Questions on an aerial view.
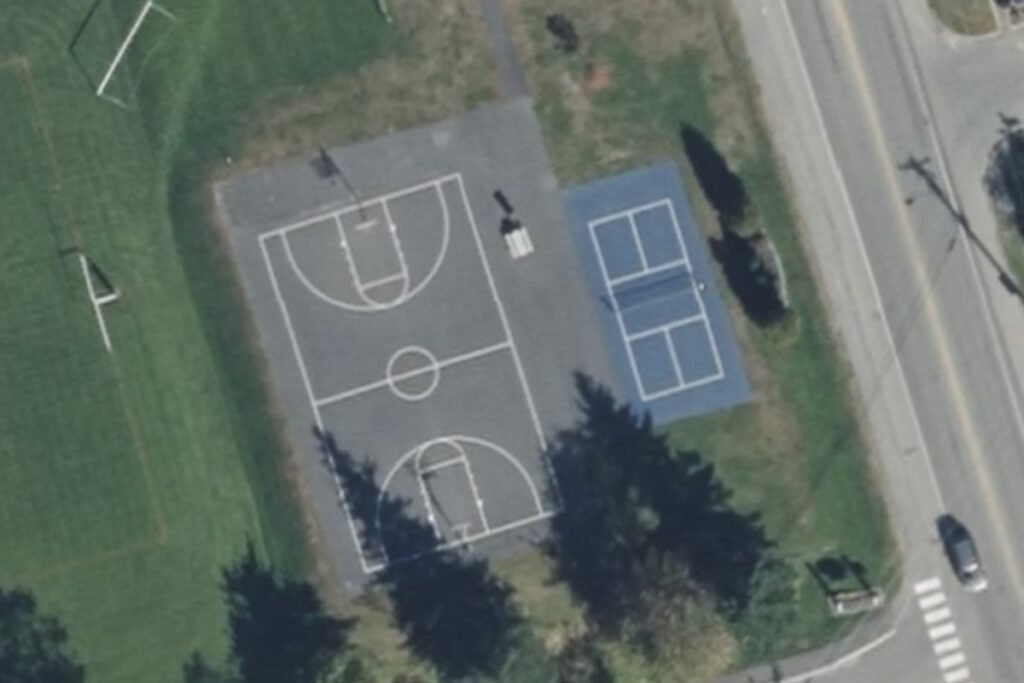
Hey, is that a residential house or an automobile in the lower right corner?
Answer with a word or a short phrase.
automobile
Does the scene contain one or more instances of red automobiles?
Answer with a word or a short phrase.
No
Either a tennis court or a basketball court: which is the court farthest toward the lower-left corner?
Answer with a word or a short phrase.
basketball court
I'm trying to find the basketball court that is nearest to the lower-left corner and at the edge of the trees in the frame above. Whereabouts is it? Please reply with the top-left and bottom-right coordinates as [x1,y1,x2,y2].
[215,98,646,598]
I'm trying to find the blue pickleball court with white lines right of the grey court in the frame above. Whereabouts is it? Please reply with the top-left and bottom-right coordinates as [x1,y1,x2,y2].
[567,163,752,424]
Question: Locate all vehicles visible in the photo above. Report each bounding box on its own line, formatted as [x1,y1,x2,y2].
[947,529,986,593]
